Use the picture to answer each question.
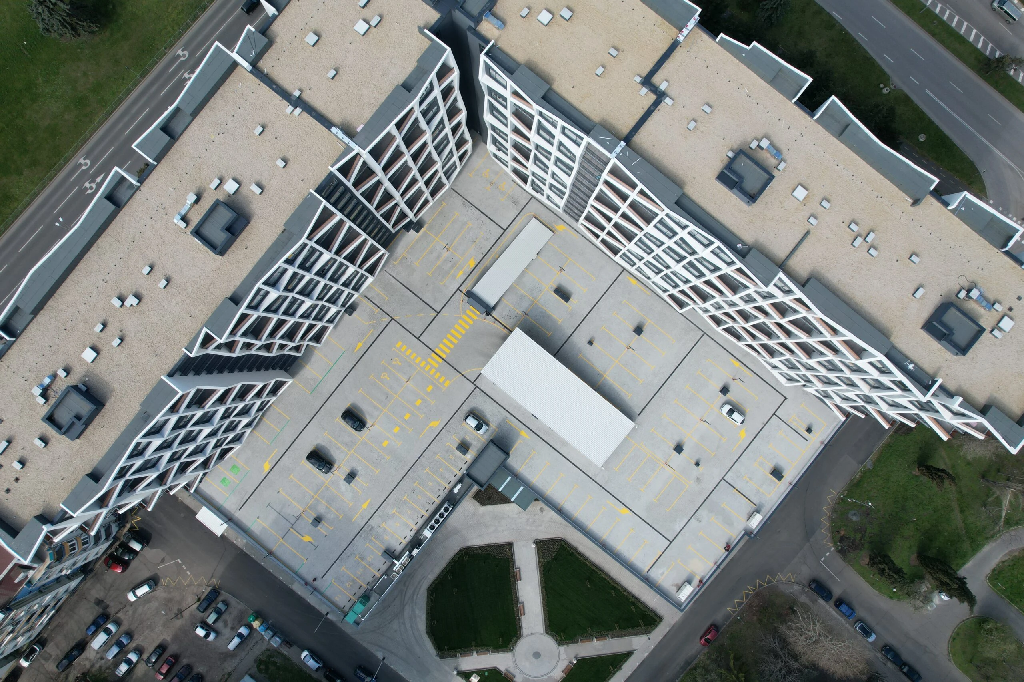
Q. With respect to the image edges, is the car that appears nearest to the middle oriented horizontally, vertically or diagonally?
diagonally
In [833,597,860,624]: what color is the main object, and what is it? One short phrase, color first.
blue car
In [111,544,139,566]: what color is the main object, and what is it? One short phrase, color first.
black car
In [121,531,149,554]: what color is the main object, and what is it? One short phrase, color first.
black car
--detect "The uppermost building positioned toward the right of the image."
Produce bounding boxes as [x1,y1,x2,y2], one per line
[452,0,1024,456]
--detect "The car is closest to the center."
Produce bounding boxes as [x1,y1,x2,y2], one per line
[462,412,489,436]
